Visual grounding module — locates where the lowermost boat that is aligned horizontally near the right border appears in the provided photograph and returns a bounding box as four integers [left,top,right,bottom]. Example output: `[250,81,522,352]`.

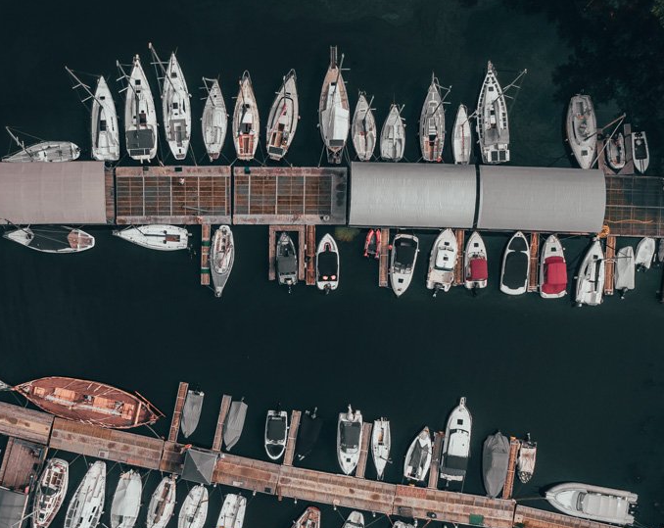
[518,486,648,528]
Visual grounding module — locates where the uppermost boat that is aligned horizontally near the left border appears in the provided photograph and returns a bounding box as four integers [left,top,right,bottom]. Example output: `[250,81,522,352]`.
[0,127,84,161]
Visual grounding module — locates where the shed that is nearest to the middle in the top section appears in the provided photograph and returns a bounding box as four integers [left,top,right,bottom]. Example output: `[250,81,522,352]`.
[348,161,476,232]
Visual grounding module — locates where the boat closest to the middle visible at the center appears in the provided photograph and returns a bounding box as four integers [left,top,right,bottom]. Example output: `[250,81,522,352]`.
[316,234,339,297]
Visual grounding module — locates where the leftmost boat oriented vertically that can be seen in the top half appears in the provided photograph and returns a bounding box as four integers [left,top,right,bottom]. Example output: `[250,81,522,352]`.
[64,64,126,171]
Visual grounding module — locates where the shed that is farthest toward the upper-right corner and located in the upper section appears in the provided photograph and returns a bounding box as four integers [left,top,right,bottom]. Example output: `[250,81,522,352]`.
[472,165,607,236]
